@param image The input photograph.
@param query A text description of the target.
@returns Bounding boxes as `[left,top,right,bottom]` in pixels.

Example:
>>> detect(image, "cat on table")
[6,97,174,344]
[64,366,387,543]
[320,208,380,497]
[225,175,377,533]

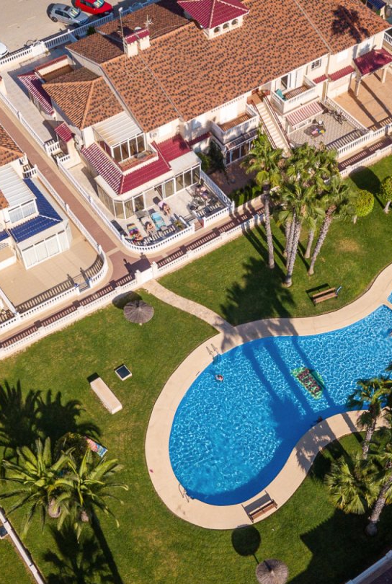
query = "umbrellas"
[122,299,155,329]
[251,556,293,584]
